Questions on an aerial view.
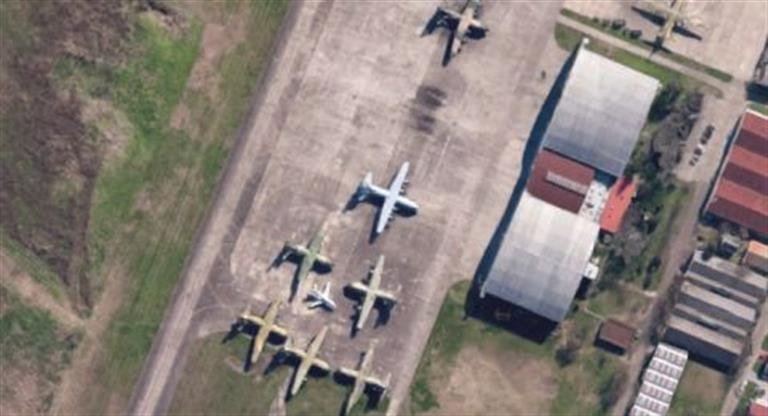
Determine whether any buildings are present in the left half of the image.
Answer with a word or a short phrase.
No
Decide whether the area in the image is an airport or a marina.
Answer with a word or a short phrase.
airport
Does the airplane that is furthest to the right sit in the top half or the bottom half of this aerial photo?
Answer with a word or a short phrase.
top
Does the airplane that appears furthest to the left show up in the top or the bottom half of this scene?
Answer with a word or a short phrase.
bottom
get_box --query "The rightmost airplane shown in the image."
[638,0,710,47]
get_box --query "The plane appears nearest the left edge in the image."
[234,293,288,364]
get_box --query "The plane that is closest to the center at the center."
[357,163,418,235]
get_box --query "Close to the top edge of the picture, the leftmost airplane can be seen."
[432,0,487,60]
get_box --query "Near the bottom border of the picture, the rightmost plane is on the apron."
[339,341,394,415]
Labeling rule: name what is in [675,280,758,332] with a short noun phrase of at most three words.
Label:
building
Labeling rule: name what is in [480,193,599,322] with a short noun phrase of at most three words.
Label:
hangar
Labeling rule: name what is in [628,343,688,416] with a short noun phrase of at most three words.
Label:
shed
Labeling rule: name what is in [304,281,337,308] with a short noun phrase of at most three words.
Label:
airplane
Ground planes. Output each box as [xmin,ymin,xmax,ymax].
[276,325,331,396]
[304,281,337,308]
[432,0,487,60]
[638,0,710,47]
[339,341,394,415]
[350,254,404,328]
[278,222,333,292]
[357,163,418,235]
[234,293,288,364]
